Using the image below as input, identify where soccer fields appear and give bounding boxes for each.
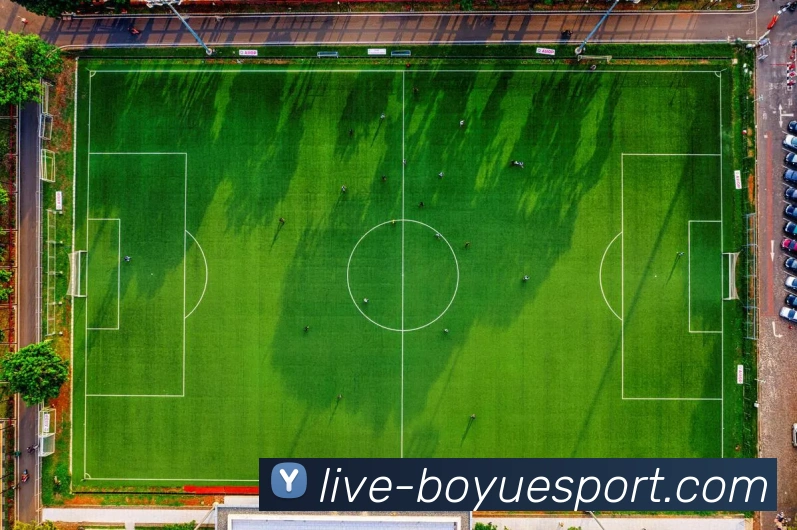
[73,58,740,493]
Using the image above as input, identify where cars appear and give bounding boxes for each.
[783,204,797,218]
[781,170,797,184]
[778,238,797,254]
[782,187,797,202]
[781,136,797,151]
[786,119,797,132]
[782,257,797,271]
[783,276,797,290]
[782,221,797,235]
[783,293,797,307]
[782,153,797,167]
[778,307,797,324]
